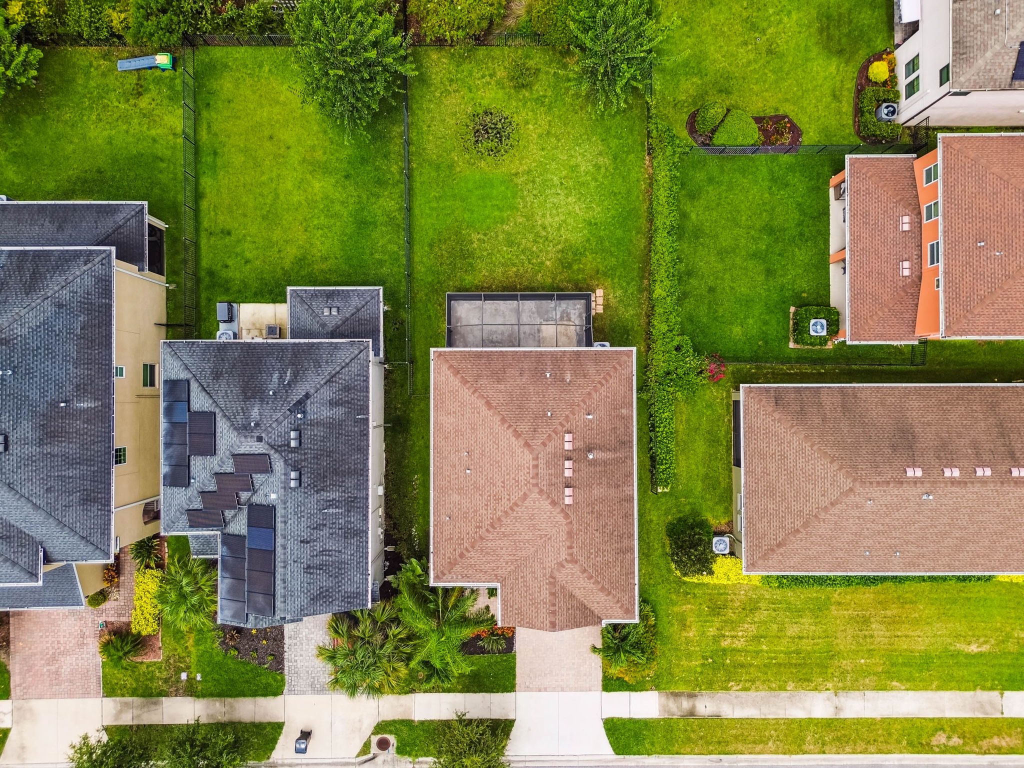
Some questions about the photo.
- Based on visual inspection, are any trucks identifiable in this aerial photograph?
No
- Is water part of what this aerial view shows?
No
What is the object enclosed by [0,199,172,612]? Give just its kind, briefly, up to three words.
house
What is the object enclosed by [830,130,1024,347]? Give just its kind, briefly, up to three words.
house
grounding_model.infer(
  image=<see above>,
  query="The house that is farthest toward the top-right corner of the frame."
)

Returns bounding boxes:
[894,0,1024,126]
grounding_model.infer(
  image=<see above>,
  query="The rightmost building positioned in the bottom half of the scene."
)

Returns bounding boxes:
[731,382,1024,577]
